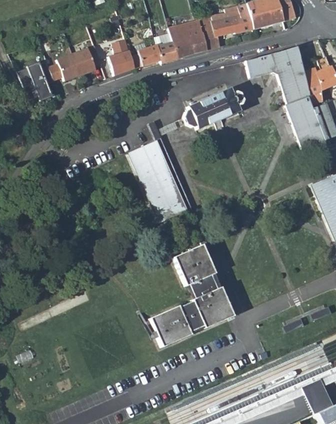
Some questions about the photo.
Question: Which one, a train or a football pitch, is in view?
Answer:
train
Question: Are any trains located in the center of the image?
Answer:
No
